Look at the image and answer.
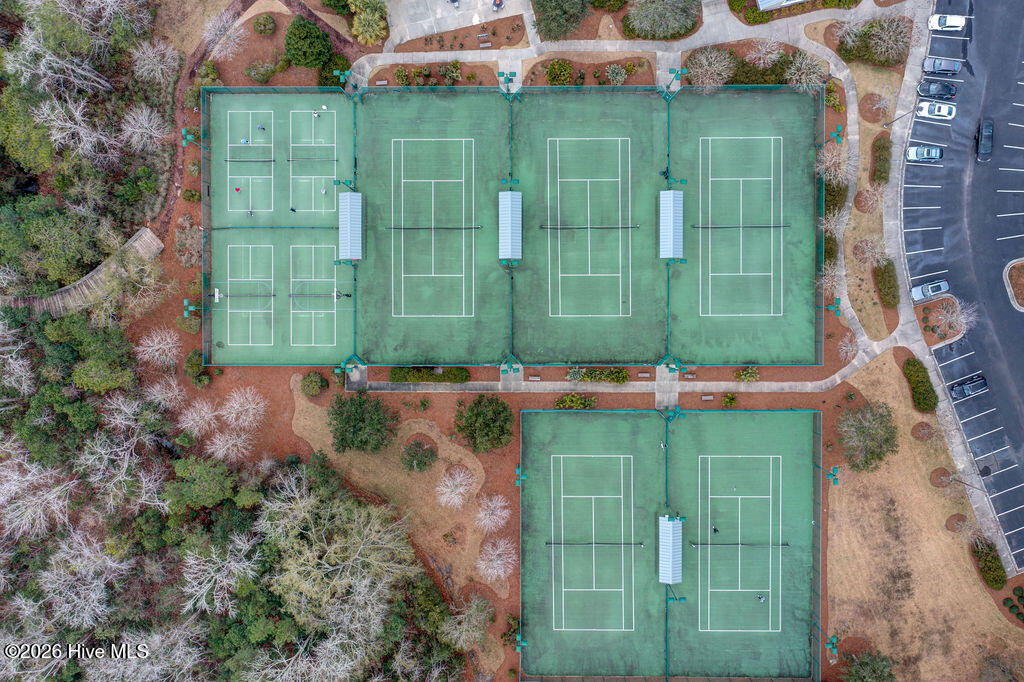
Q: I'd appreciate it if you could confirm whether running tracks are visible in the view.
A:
No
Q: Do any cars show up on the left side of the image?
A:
No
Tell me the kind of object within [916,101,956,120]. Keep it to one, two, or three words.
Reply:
car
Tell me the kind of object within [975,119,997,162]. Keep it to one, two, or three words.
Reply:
car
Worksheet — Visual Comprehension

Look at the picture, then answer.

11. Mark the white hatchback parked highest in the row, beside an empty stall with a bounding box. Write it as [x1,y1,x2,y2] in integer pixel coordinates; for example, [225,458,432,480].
[927,12,965,32]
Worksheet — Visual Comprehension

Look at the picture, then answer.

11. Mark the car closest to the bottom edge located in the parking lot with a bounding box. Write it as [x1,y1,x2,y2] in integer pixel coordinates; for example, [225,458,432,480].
[949,376,990,400]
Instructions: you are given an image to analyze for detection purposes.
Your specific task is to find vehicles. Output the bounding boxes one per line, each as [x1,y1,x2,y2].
[905,144,944,163]
[927,12,965,32]
[916,101,956,120]
[911,280,950,300]
[921,56,962,76]
[975,119,997,162]
[949,376,990,400]
[916,81,956,100]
